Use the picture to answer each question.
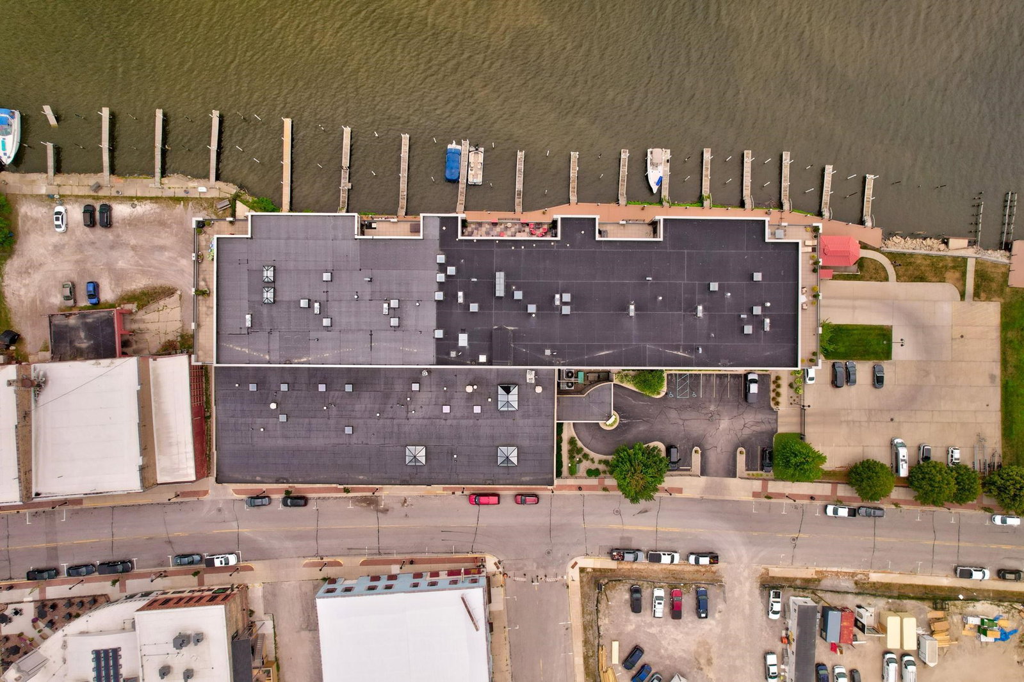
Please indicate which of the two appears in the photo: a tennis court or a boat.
boat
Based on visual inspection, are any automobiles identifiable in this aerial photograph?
Yes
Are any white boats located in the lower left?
No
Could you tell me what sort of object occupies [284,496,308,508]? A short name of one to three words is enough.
vehicle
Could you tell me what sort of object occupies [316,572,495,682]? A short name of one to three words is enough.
building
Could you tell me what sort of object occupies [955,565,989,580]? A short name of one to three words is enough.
vehicle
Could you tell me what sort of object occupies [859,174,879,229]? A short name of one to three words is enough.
pier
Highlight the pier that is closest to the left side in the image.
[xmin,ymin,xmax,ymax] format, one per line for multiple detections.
[43,142,60,185]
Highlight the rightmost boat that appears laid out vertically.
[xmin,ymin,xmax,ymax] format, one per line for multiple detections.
[647,147,664,192]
